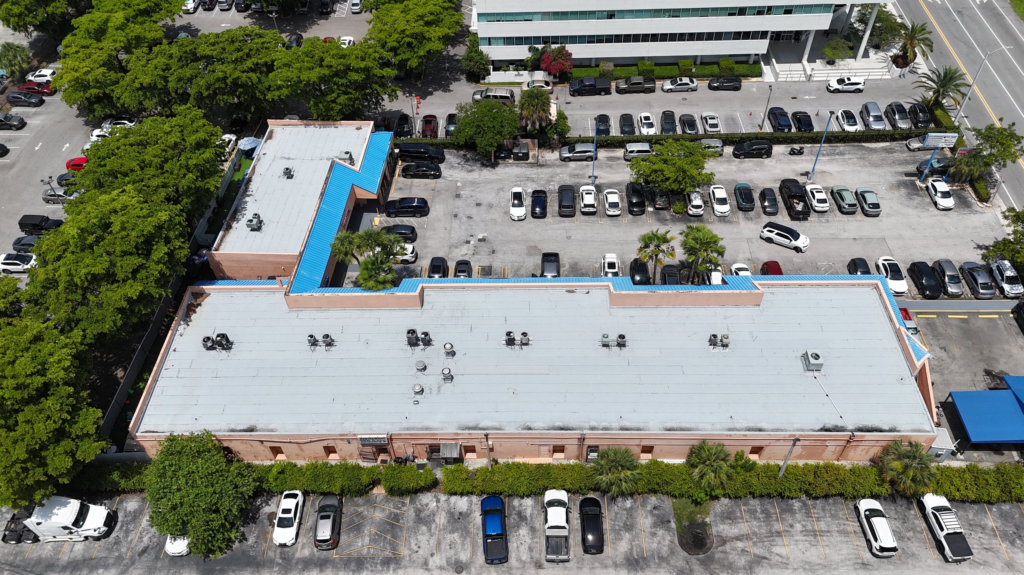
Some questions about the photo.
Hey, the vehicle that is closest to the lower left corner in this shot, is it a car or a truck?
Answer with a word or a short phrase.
truck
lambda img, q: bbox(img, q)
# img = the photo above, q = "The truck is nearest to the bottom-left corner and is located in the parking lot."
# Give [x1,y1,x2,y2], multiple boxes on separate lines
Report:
[2,495,122,545]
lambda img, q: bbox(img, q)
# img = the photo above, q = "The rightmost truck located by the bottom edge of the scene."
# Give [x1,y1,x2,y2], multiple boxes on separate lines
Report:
[920,491,978,566]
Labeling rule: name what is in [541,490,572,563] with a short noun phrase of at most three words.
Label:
truck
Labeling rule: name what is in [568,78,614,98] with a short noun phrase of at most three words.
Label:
vehicle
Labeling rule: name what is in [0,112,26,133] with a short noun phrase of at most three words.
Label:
truck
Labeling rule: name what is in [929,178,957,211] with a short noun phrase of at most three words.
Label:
car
